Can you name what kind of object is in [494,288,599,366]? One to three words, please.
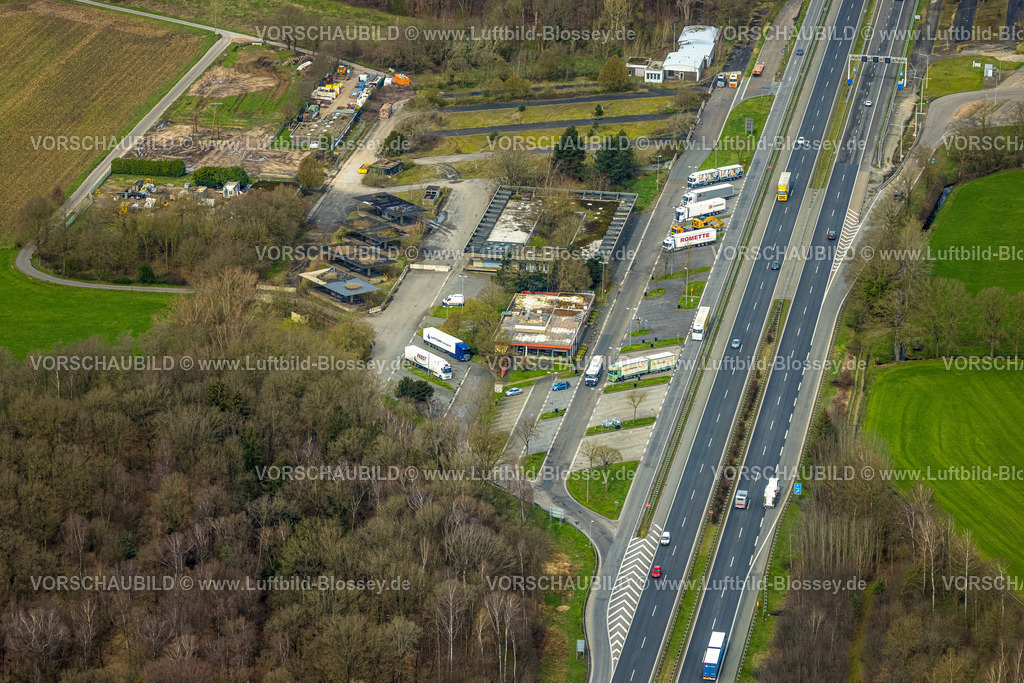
building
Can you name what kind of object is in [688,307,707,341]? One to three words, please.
vehicle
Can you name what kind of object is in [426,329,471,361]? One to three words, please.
truck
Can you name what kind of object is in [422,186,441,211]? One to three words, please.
building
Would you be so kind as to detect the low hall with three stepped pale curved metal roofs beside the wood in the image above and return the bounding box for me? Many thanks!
[625,25,718,83]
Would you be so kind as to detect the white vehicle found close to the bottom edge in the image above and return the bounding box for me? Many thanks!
[698,633,722,680]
